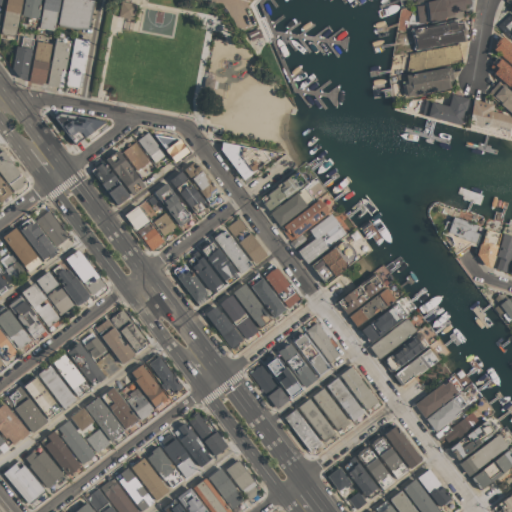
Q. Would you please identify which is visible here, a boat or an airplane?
boat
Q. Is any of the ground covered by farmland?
No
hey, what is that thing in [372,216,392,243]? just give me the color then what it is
white boat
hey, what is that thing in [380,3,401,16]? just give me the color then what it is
white boat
